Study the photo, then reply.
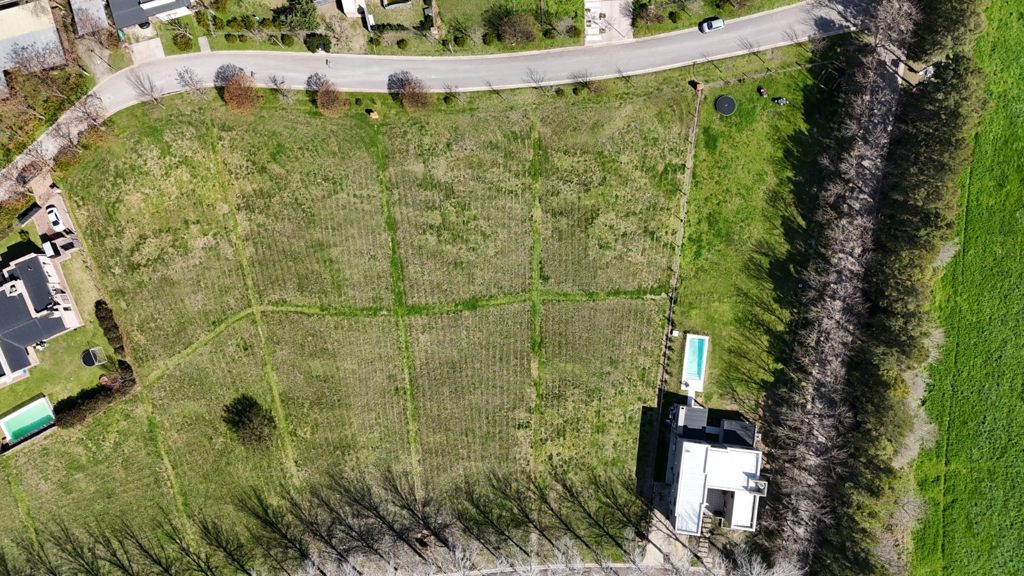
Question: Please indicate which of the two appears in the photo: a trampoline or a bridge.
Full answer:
Visible in the photo is a trampoline.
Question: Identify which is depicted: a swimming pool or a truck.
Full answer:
There is a swimming pool in the scene.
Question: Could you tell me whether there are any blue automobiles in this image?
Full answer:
No, I can see no blue automobile in this picture.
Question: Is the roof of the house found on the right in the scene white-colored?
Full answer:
Yes, white is the color of the roof of the house found on the right.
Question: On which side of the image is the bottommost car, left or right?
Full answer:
The bottommost car sits on the left side.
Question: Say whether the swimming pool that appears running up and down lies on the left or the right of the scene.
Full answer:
It is on the right.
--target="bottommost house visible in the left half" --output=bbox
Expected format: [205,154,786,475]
[0,253,81,383]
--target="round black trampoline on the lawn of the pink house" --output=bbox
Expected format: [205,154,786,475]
[81,349,99,367]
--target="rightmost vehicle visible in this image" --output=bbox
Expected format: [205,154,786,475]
[698,17,725,35]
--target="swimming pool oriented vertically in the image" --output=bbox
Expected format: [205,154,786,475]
[681,334,709,392]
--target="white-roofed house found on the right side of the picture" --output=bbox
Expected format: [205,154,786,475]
[666,403,767,536]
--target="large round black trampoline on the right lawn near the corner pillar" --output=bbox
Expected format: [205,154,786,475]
[714,94,737,117]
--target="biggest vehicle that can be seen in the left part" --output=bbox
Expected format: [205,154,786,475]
[45,205,67,233]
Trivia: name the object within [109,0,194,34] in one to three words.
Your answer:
house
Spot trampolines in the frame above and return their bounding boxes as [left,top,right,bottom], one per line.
[714,94,737,117]
[81,349,99,367]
